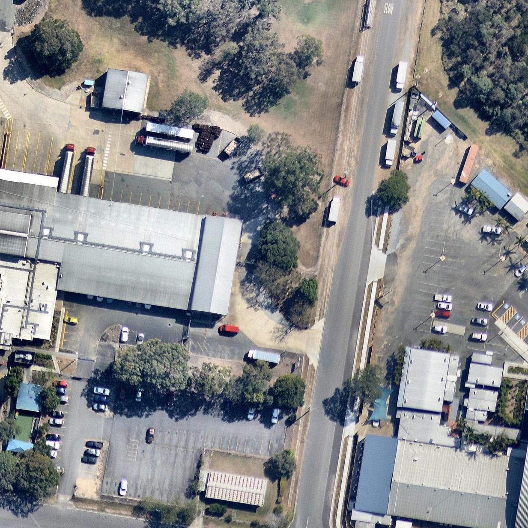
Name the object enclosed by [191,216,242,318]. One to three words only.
building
